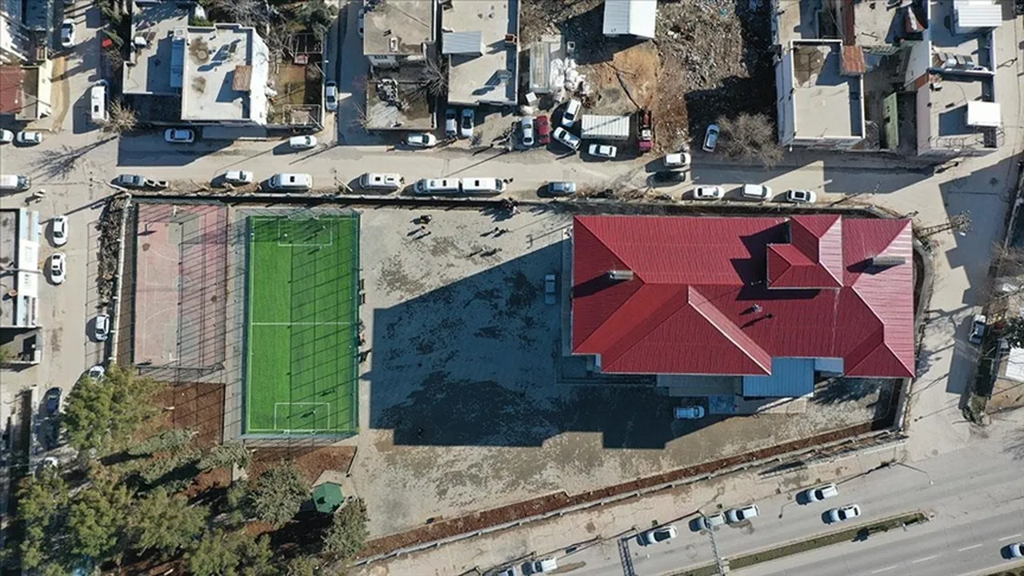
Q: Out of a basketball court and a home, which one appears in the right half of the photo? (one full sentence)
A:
Visible in the right half of the photo is a home.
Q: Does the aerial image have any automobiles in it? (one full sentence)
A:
Yes, there's an automobile down there.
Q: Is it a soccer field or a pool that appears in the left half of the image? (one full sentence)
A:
What appears in the left half of the image is a soccer field.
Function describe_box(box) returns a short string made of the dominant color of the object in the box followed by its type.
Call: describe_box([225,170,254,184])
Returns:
white car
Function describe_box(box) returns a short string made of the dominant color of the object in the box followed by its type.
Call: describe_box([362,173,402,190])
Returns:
white vehicle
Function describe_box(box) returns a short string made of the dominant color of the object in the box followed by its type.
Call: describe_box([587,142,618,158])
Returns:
white car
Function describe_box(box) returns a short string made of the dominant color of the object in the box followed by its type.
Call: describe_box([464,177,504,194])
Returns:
white vehicle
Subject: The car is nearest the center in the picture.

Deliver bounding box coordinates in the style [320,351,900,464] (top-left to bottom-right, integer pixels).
[543,274,557,305]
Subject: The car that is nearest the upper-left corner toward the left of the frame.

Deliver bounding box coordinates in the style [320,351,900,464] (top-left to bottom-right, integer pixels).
[60,18,78,49]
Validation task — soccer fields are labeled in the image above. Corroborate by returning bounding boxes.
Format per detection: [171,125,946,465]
[244,214,359,435]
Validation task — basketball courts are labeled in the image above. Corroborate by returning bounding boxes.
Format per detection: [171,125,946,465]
[132,204,227,365]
